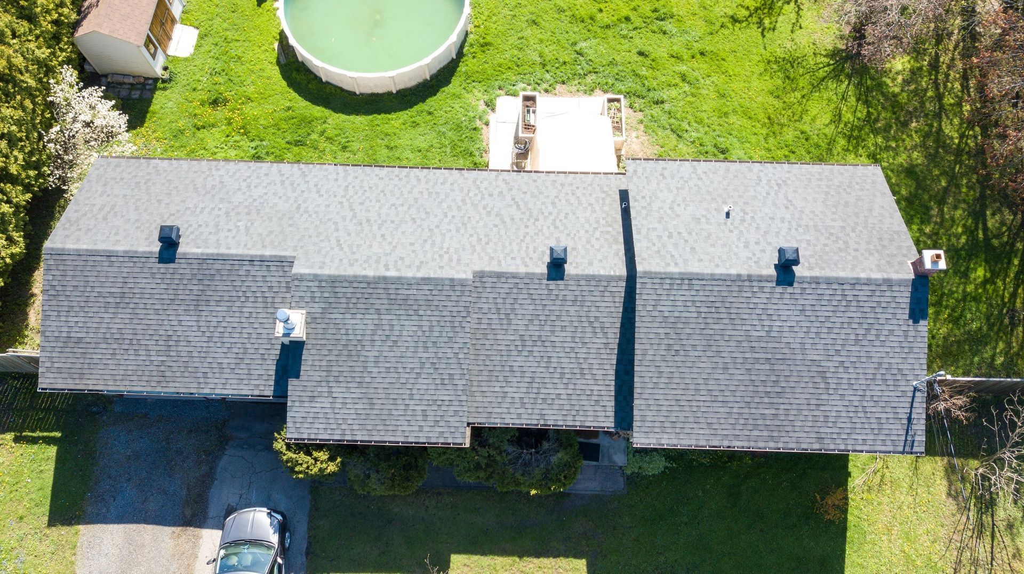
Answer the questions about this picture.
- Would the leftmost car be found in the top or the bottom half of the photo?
bottom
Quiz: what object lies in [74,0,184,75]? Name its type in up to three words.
shed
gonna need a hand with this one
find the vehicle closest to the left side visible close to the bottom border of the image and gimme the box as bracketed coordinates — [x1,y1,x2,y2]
[208,508,288,574]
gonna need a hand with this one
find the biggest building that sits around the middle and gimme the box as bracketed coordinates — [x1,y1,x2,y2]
[38,154,950,467]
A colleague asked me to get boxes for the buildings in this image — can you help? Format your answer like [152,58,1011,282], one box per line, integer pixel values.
[74,0,184,75]
[38,154,950,467]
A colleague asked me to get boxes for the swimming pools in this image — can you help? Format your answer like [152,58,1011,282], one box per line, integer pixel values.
[278,0,473,92]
